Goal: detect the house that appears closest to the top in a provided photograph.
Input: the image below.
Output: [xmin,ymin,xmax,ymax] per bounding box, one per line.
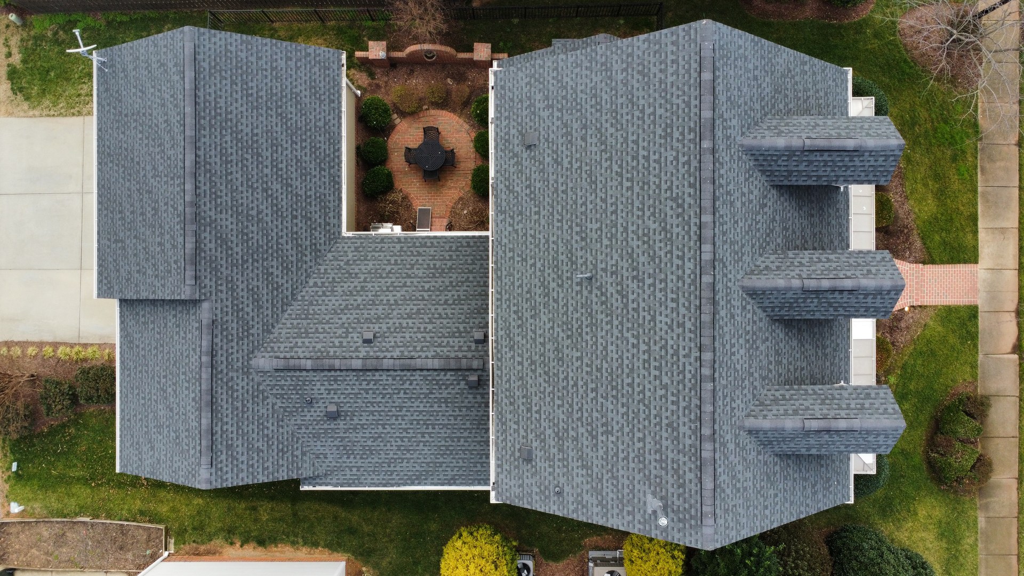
[93,21,905,550]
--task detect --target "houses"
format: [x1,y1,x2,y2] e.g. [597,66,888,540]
[93,21,905,550]
[140,550,349,576]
